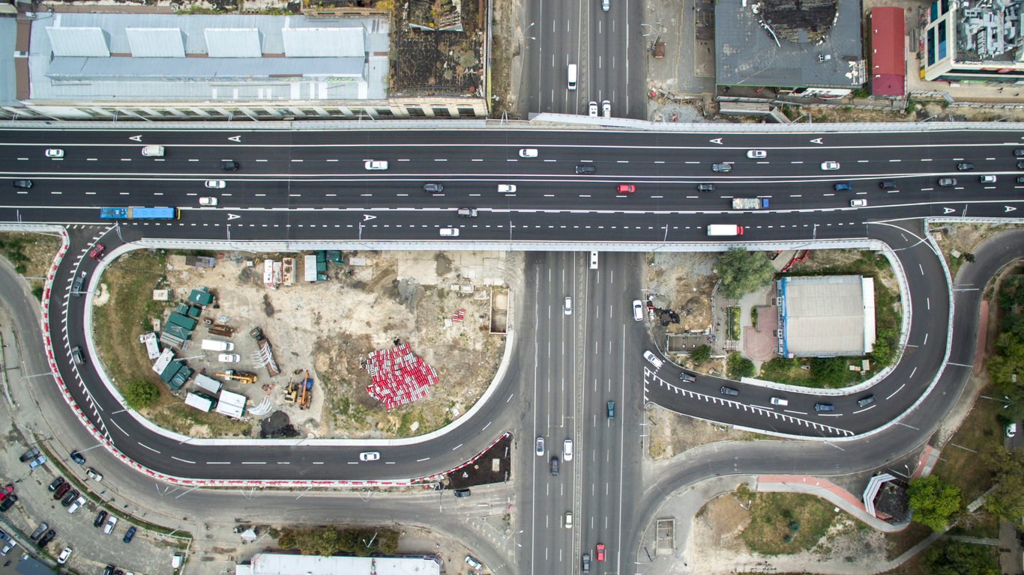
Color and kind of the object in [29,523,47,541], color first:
gray car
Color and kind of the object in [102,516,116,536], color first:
white car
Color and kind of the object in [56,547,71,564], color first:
white car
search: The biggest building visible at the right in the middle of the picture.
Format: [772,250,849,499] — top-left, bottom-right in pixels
[770,276,863,358]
